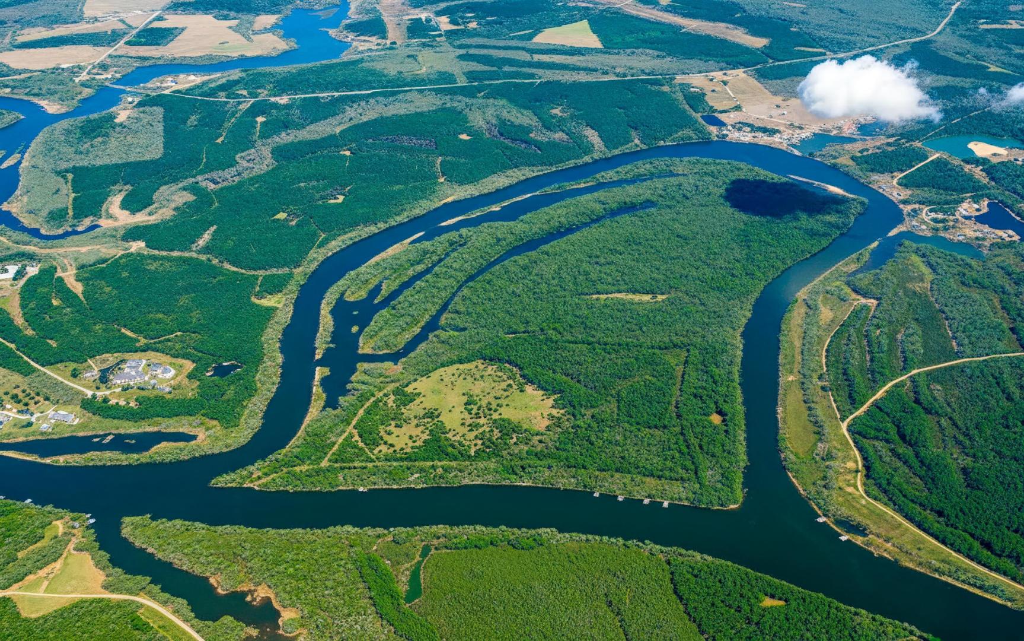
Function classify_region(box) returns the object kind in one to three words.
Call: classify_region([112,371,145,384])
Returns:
building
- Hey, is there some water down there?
Yes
